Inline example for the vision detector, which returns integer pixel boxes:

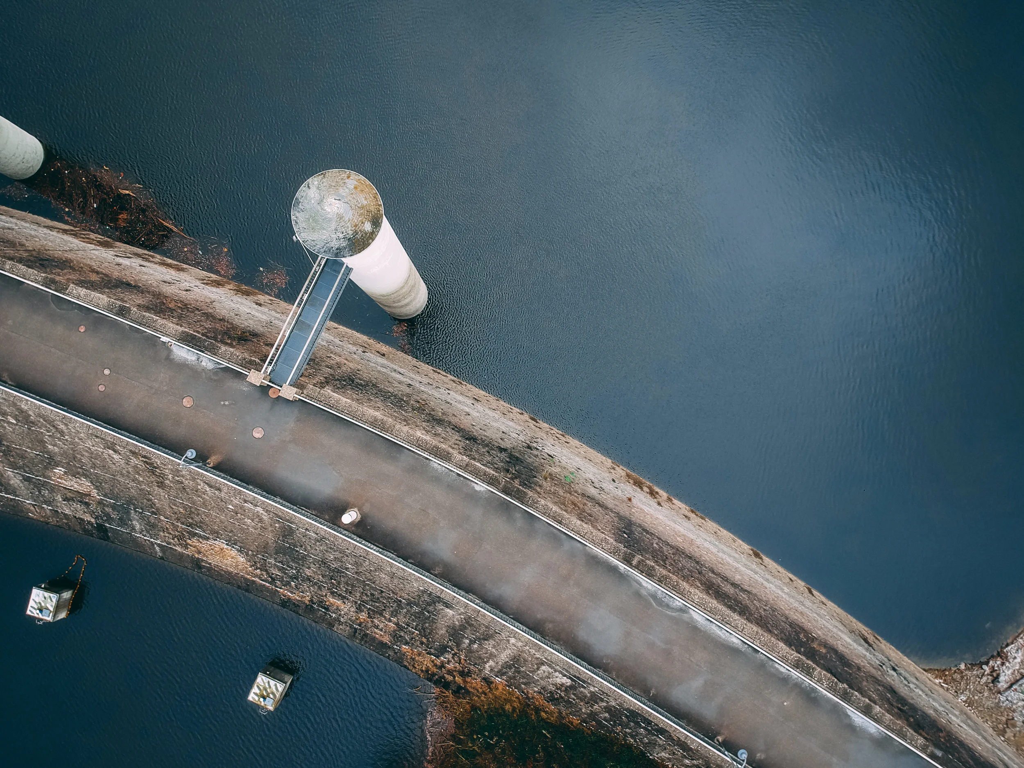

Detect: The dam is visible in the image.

[0,203,1024,768]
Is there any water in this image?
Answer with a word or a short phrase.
Yes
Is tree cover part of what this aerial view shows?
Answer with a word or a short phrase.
No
